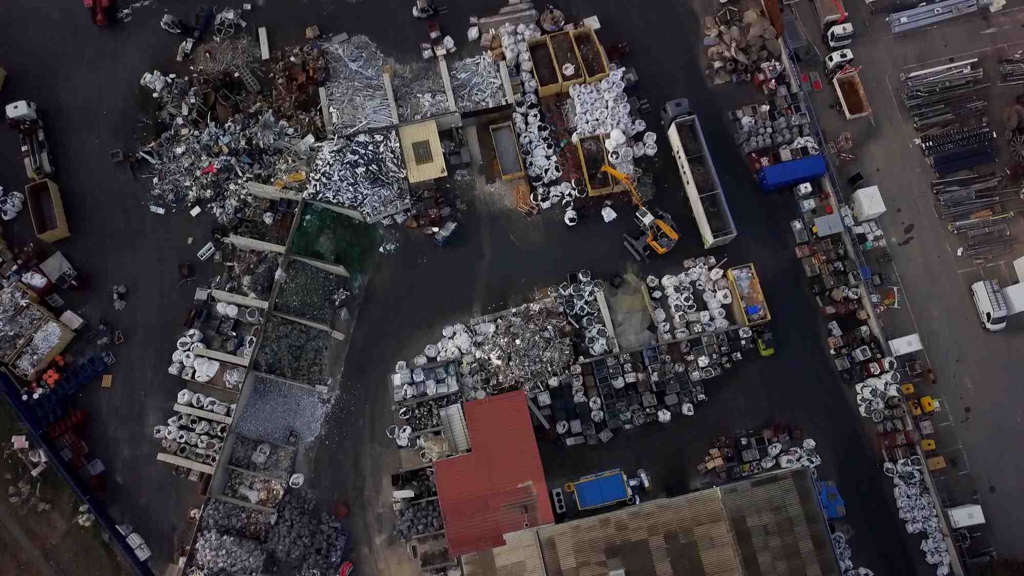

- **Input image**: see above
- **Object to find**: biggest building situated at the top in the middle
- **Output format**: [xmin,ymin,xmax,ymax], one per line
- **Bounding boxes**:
[399,119,447,191]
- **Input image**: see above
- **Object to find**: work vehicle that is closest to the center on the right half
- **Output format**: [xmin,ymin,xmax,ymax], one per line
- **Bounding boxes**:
[595,165,691,262]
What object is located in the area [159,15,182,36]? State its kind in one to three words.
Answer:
work vehicle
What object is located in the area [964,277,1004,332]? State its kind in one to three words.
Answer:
van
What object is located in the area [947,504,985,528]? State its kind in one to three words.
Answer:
trailer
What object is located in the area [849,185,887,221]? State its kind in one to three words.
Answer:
building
